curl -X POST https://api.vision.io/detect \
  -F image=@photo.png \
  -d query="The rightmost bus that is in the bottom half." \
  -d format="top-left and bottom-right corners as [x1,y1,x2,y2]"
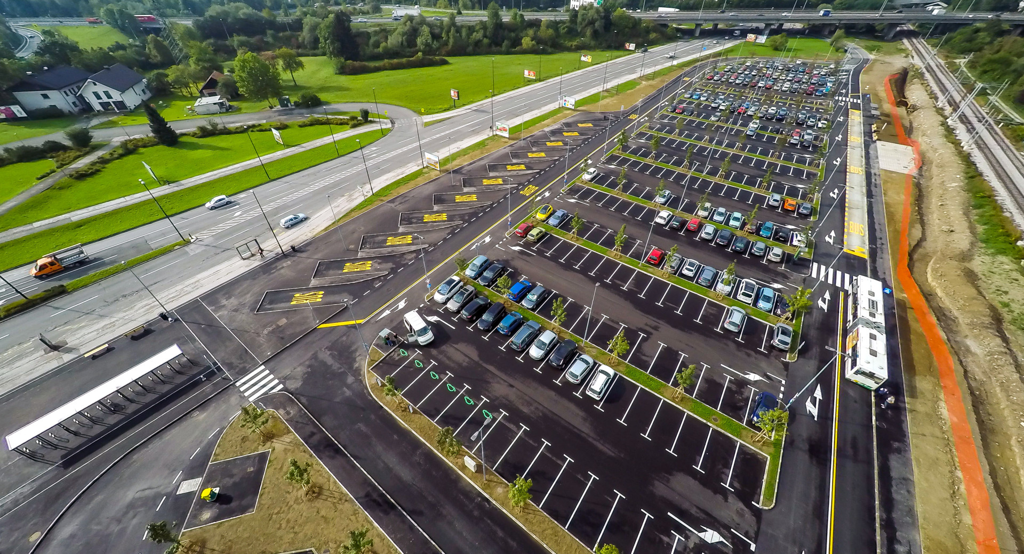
[841,275,888,394]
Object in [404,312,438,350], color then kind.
white van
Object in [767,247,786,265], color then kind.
white car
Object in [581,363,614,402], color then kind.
white car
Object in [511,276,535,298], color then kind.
blue car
